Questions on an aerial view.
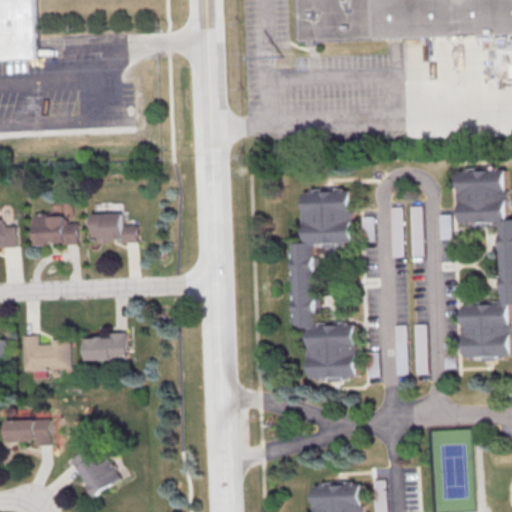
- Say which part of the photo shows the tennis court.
bottom right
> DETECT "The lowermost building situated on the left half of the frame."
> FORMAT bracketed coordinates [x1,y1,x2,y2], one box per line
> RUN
[72,453,124,496]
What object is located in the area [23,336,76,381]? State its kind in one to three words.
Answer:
house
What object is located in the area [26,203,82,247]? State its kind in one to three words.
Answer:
house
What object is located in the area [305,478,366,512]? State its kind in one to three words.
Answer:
building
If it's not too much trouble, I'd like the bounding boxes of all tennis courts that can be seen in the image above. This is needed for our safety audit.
[432,429,474,512]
